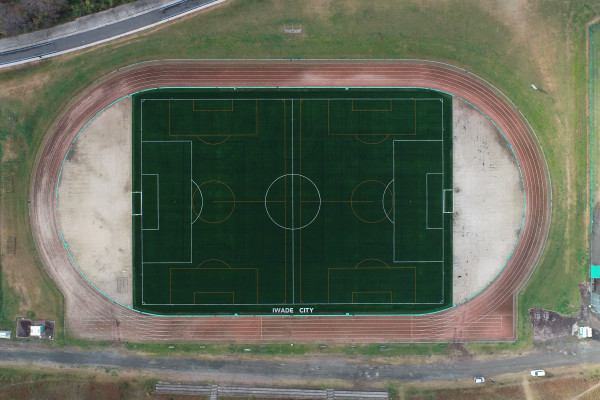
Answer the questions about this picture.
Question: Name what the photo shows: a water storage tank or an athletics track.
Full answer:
Looking from above, you can make out an athletics track.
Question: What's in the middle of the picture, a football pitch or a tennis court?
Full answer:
The feature located in the middle of the picture is a football pitch.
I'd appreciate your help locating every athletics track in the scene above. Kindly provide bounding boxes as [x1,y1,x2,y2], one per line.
[29,60,553,343]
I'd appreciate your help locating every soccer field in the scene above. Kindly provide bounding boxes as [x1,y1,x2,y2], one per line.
[132,88,452,314]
